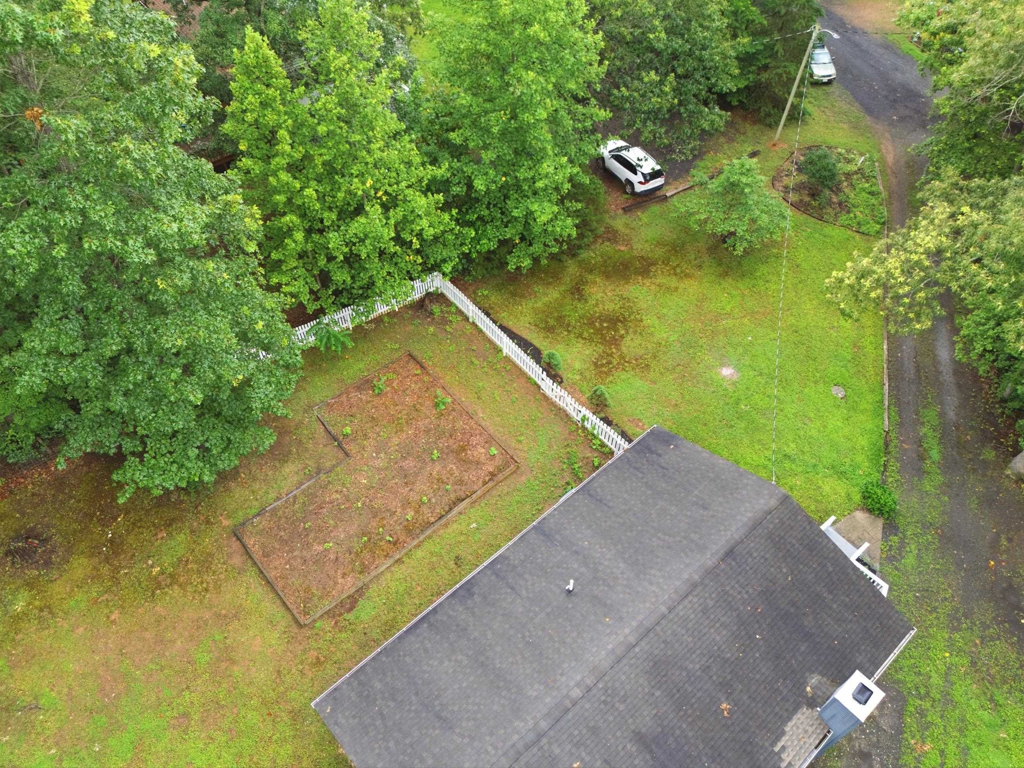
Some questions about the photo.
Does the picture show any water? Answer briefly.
No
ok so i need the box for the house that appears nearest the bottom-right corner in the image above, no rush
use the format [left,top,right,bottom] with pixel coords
[310,423,917,768]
